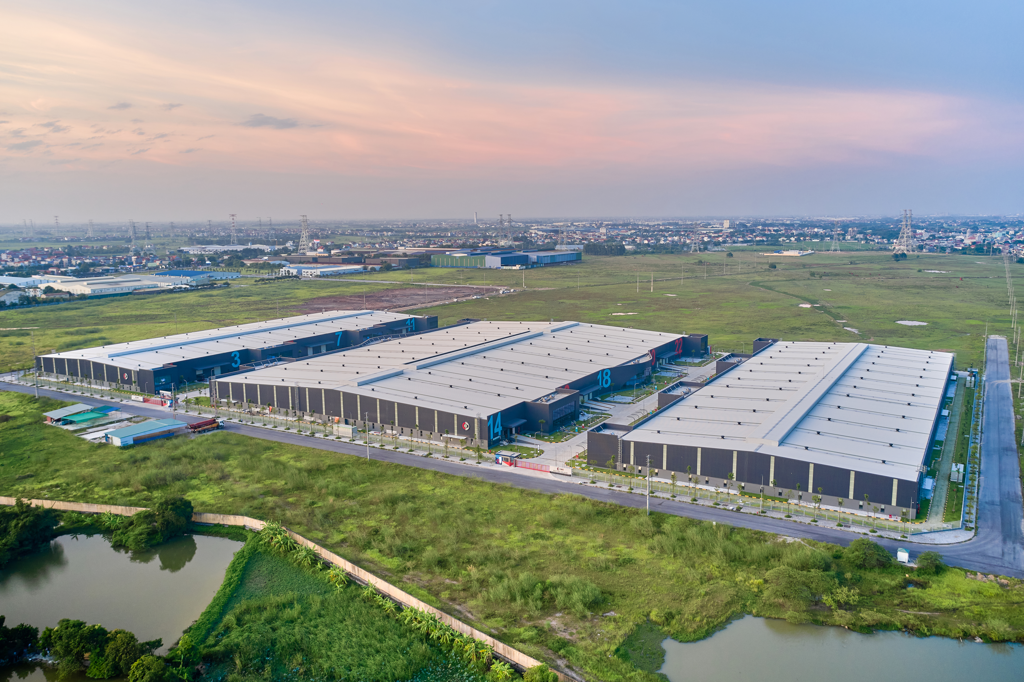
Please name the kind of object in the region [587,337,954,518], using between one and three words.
warehouse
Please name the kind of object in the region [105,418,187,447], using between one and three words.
shed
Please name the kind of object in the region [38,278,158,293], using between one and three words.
building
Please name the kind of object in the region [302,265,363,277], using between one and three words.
building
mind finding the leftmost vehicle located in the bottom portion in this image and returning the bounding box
[192,417,227,434]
